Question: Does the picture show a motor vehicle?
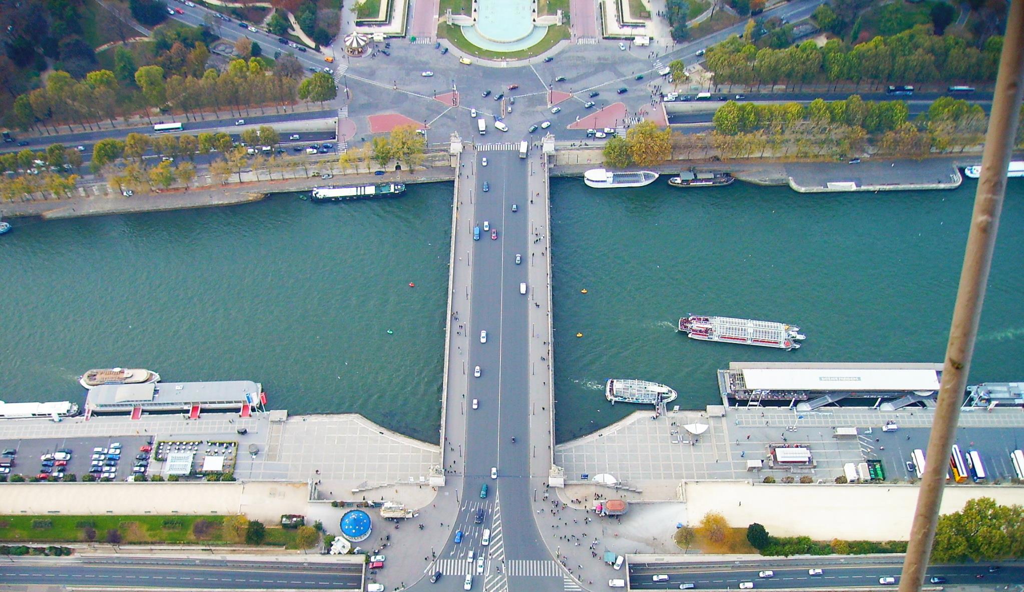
Yes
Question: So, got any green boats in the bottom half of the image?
No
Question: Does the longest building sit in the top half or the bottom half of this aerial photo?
bottom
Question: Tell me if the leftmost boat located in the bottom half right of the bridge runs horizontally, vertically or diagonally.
horizontally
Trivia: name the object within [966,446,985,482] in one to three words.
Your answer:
vehicle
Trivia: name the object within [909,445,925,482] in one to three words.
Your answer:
vehicle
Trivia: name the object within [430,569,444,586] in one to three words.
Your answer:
car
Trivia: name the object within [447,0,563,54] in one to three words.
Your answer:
fountain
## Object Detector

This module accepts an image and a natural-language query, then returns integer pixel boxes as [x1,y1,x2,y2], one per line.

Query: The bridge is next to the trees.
[435,150,560,482]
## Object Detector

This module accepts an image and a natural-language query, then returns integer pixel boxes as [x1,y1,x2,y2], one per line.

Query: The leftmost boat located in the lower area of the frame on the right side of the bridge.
[605,379,677,405]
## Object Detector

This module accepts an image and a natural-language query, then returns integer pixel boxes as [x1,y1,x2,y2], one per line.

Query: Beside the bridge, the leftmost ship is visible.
[307,183,410,204]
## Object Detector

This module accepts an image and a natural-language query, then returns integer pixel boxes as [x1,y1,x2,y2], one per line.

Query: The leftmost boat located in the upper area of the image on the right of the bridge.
[581,170,661,189]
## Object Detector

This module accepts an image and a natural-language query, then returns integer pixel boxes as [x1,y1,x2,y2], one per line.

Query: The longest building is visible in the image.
[729,365,944,407]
